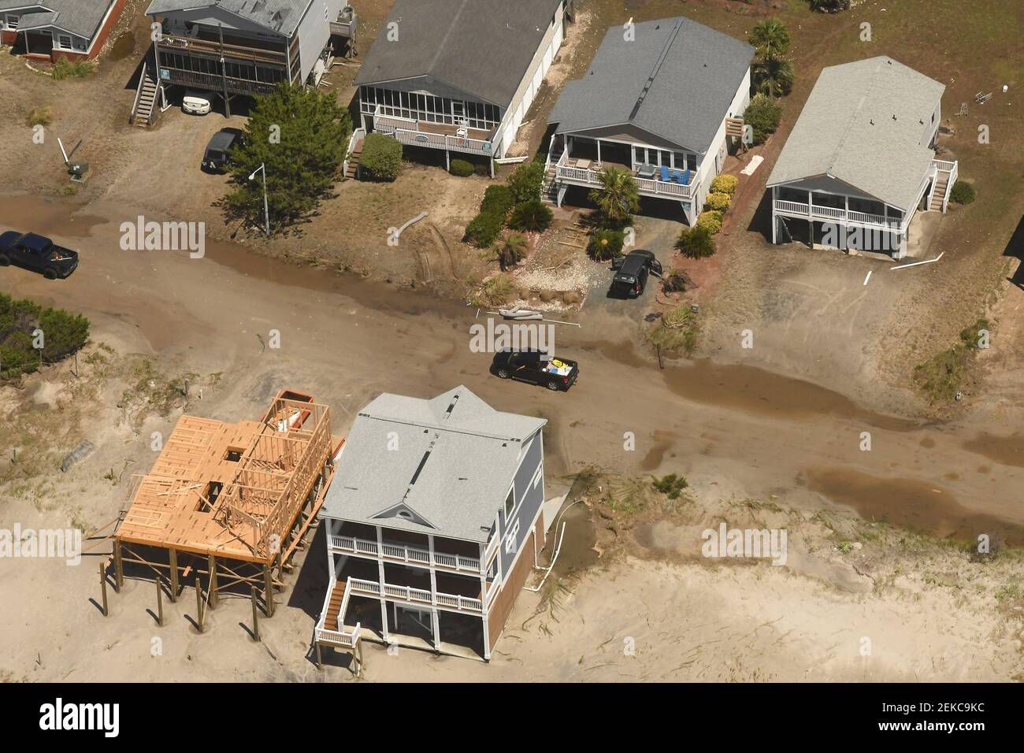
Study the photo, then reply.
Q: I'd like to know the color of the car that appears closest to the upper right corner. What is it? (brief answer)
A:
black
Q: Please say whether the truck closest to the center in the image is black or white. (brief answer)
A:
black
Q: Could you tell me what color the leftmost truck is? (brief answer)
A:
black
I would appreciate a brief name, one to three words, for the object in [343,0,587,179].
house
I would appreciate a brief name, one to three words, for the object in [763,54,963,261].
house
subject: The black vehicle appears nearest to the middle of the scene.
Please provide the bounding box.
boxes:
[485,344,582,390]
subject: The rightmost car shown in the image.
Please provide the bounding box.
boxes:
[612,240,666,292]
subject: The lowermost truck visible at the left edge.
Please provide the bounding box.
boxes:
[0,231,80,276]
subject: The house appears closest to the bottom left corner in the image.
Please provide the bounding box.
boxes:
[111,397,335,618]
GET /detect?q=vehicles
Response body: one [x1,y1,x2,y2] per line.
[204,123,246,166]
[0,231,80,276]
[180,89,218,112]
[485,344,582,390]
[612,240,666,292]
